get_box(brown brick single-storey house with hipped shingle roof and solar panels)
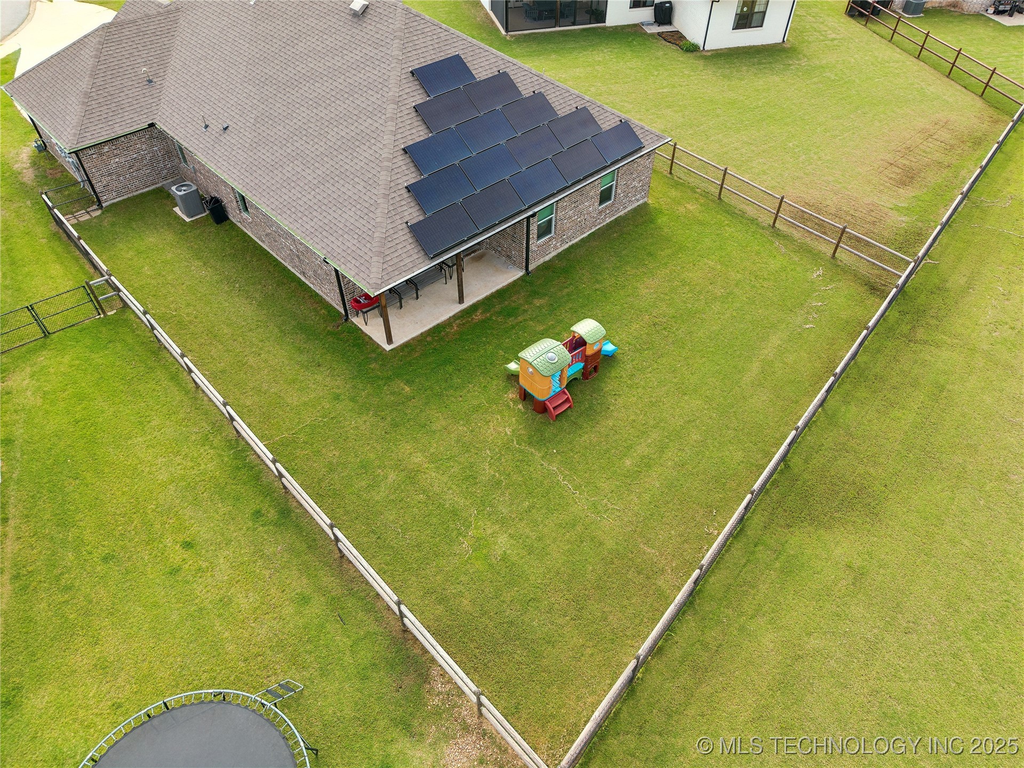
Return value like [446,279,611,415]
[1,0,670,348]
